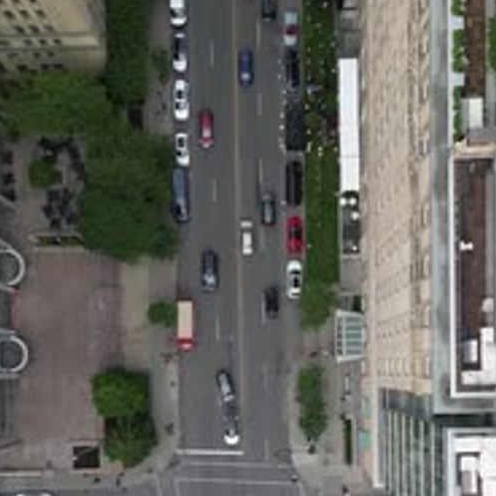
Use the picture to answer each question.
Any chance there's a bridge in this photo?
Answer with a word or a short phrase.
No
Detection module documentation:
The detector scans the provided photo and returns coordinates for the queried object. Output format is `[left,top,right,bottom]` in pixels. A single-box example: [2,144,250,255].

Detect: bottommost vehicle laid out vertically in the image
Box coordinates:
[224,404,240,444]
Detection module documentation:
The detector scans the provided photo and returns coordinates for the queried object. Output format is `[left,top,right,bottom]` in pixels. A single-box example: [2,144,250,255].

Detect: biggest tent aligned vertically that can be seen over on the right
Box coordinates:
[336,58,357,199]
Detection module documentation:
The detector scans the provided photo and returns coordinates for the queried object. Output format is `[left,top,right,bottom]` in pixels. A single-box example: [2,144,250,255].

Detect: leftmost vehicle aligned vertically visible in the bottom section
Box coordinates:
[176,298,197,352]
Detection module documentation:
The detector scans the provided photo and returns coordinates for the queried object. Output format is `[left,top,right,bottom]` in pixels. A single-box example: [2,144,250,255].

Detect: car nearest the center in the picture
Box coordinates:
[240,221,255,256]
